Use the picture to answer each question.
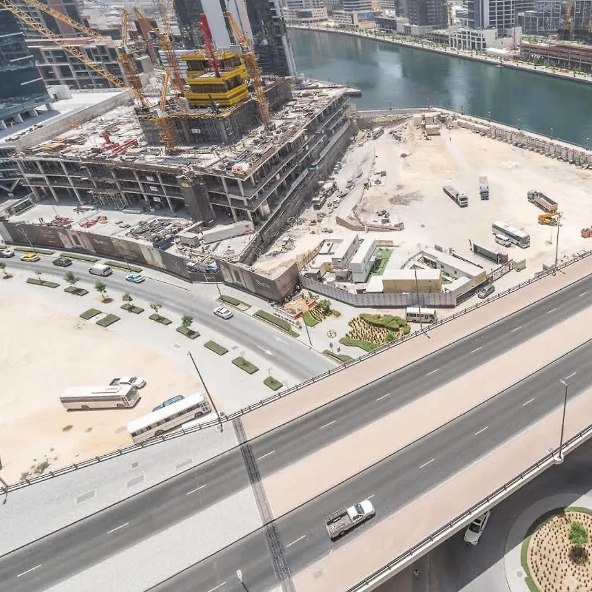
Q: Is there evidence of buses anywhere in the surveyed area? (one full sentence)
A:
Yes, there is a bus in the image.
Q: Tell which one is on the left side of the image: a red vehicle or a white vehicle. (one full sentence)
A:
What appears on the left side of the image is a white vehicle.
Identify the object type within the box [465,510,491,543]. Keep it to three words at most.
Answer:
car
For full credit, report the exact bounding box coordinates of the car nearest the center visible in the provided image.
[213,306,232,319]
